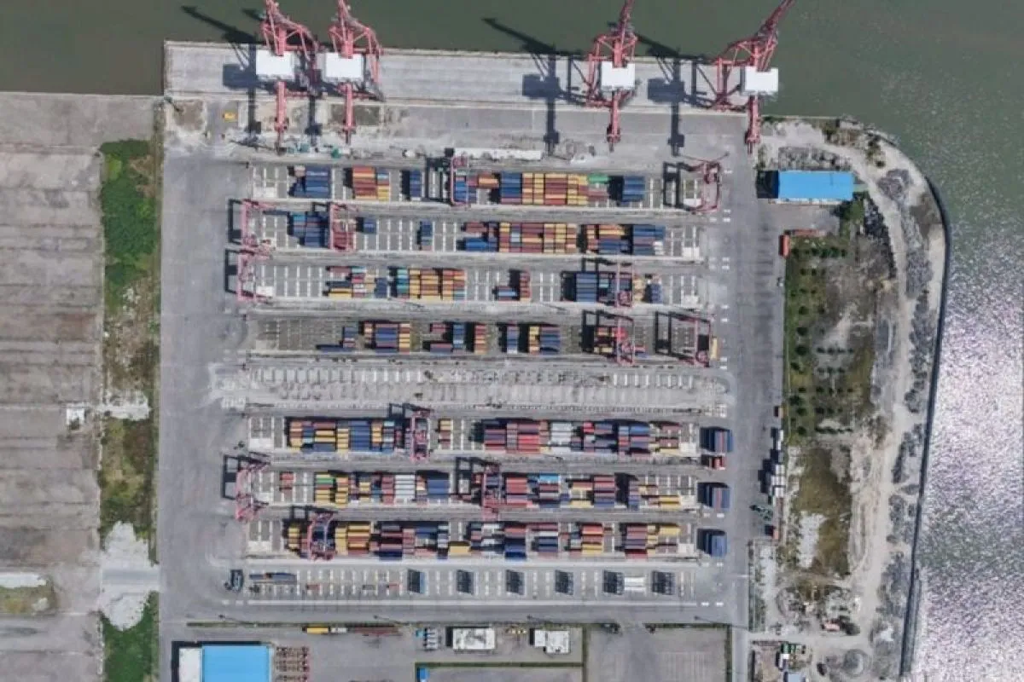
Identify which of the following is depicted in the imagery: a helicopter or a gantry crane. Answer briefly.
gantry crane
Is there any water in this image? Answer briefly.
Yes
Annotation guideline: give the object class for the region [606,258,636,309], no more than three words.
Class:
crane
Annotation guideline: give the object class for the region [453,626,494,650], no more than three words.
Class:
building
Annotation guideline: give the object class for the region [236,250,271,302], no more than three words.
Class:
crane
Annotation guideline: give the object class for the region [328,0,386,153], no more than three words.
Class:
container crane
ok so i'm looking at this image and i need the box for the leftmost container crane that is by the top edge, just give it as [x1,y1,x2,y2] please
[256,0,323,151]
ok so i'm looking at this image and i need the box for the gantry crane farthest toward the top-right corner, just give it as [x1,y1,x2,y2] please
[709,0,795,165]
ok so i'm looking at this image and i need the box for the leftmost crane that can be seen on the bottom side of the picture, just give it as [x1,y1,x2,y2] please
[234,459,268,516]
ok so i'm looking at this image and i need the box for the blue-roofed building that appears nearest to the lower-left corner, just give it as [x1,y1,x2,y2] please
[202,640,275,682]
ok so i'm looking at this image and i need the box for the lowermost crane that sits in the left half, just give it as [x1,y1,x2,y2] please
[308,510,338,568]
